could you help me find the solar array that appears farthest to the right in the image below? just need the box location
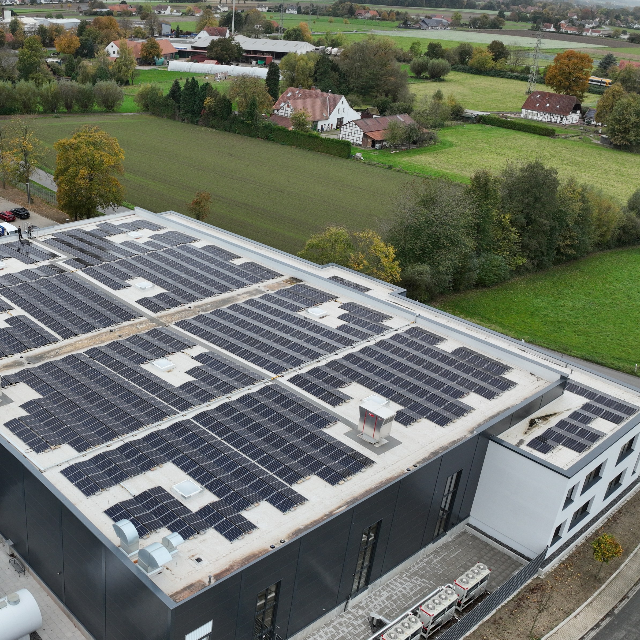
[525,378,640,457]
